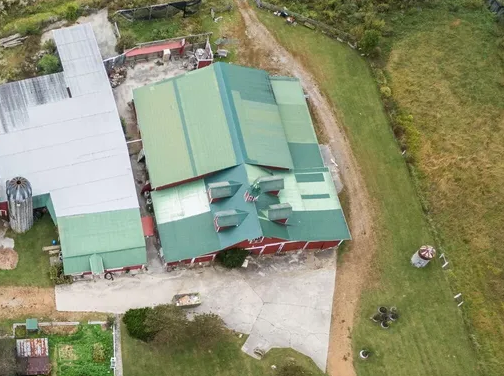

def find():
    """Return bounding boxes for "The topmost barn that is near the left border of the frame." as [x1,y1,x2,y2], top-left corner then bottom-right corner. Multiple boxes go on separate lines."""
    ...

[0,23,147,284]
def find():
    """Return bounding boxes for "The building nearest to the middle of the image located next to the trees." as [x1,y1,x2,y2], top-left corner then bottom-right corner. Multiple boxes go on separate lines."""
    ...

[133,62,352,270]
